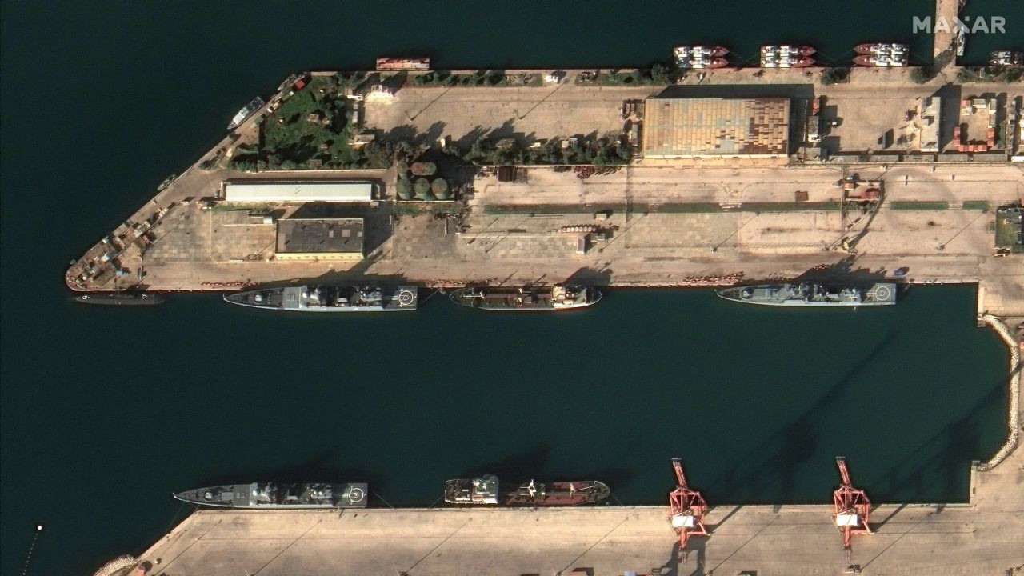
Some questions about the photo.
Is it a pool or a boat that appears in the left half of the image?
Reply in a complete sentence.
Looking in the left half of the image, you will find a boat.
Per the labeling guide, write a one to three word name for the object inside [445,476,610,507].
ship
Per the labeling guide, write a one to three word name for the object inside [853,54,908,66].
boat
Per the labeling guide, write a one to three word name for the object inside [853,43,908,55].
boat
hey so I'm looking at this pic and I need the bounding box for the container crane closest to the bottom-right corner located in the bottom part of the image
[835,462,874,565]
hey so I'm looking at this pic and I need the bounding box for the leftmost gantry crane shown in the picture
[671,463,710,566]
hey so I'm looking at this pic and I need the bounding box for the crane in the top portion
[839,191,876,257]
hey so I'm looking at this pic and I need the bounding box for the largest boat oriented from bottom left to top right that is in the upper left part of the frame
[228,97,265,129]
